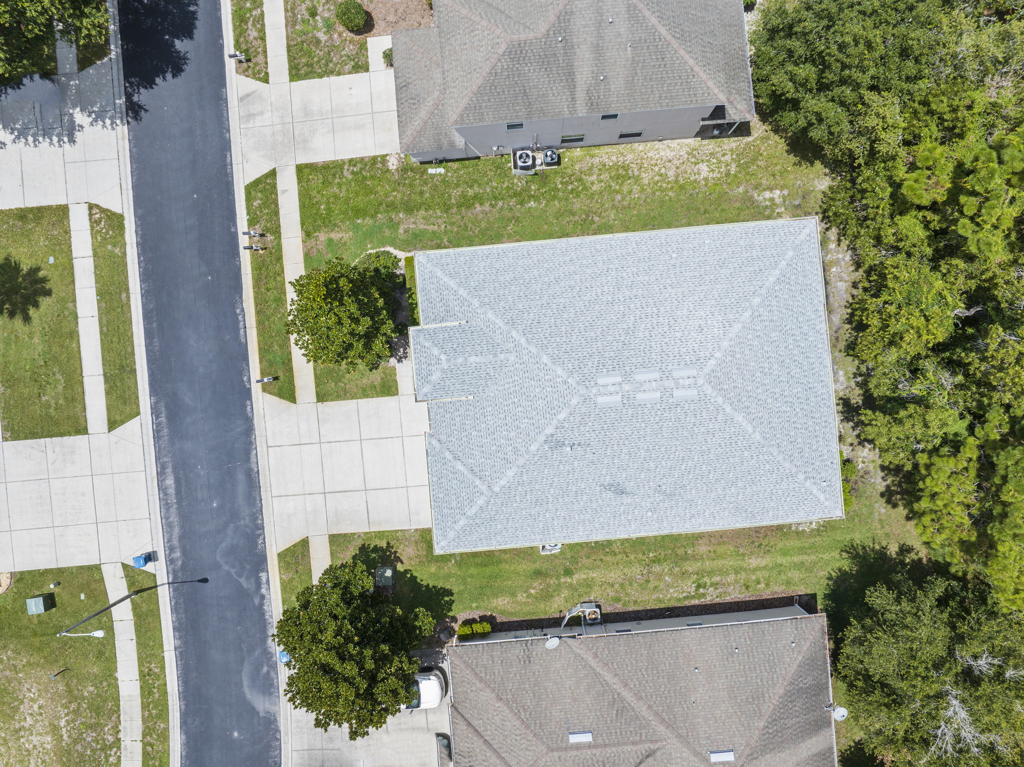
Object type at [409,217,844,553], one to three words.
house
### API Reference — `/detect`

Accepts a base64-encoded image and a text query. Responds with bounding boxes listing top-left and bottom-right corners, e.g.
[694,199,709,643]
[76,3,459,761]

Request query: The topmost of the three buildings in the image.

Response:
[391,0,754,161]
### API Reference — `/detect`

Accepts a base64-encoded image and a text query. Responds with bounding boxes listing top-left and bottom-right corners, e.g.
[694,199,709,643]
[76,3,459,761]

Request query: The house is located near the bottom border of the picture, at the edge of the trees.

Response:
[437,600,837,767]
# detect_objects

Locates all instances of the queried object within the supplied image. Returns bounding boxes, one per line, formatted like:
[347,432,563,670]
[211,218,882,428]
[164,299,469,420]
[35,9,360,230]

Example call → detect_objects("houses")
[409,217,844,553]
[391,0,754,161]
[437,600,837,767]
